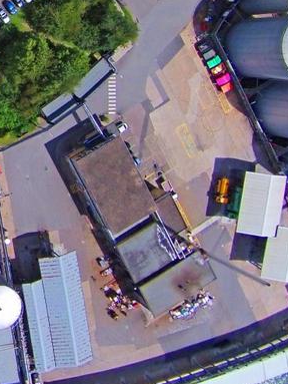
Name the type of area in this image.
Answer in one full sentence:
What you see here is an industrial area.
